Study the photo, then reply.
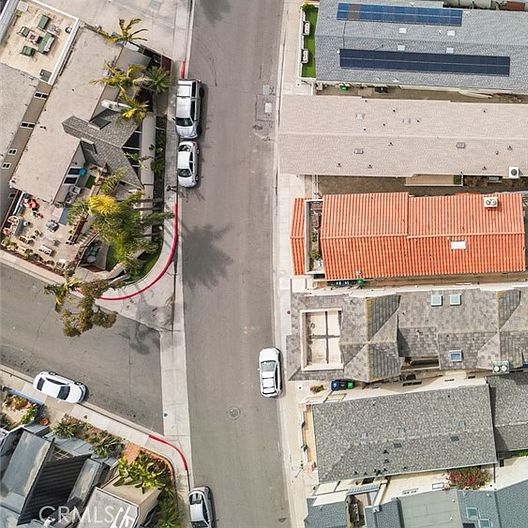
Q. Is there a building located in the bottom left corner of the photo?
Yes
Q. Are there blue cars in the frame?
No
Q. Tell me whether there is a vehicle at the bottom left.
Yes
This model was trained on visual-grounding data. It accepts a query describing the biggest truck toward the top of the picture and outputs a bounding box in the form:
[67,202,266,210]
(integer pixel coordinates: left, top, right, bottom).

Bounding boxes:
[176,78,204,139]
